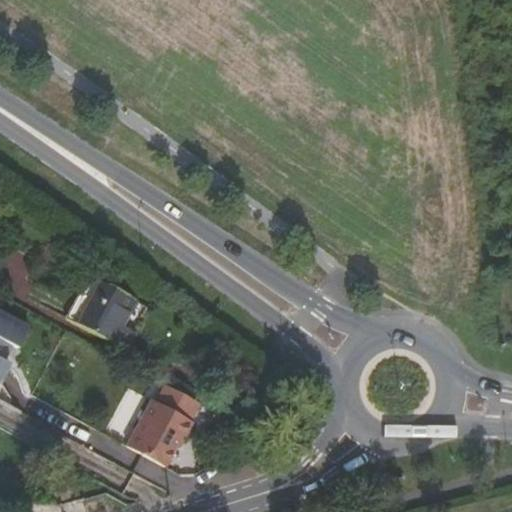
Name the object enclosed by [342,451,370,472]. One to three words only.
vehicle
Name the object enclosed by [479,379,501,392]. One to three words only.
vehicle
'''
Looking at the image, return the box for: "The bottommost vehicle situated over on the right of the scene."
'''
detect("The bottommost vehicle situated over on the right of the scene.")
[302,478,324,492]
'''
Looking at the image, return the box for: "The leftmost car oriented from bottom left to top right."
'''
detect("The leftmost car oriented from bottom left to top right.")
[196,468,216,484]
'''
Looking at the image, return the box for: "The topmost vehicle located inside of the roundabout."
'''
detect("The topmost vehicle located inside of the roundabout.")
[393,332,415,347]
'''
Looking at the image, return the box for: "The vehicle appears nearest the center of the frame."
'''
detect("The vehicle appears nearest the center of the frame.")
[222,240,243,256]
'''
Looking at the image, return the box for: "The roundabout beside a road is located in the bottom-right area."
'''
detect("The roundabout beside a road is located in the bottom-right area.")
[322,308,484,462]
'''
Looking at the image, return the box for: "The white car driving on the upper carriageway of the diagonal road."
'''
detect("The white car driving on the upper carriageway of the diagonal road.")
[163,202,183,218]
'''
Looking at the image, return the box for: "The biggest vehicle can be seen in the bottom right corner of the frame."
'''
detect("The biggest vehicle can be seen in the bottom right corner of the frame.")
[384,424,459,440]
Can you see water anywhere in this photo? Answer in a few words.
No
